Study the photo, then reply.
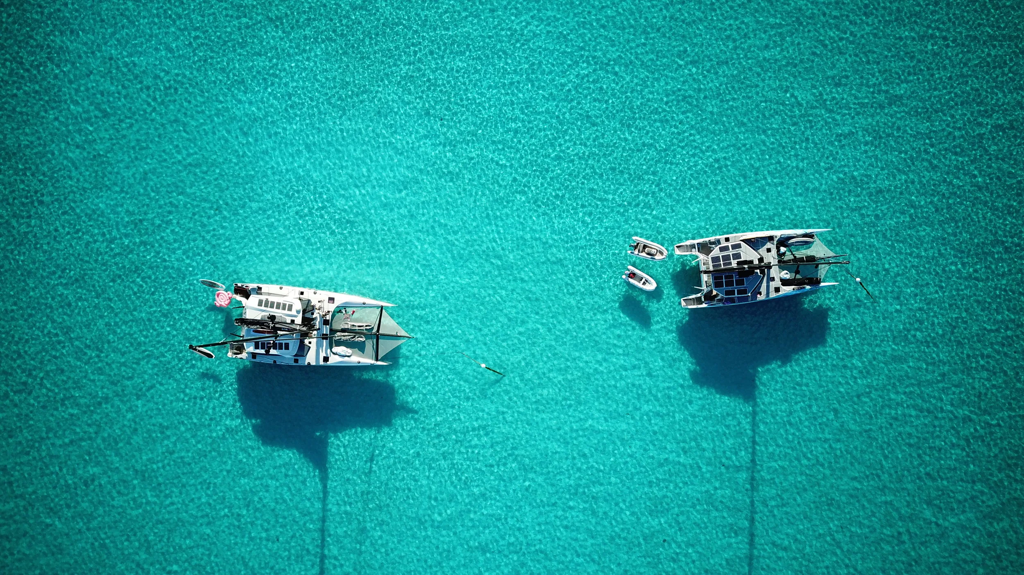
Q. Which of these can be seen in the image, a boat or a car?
boat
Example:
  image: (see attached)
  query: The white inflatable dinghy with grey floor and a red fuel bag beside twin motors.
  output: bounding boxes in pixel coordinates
[622,263,658,290]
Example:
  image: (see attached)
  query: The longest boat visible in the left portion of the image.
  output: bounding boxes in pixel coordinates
[184,283,414,365]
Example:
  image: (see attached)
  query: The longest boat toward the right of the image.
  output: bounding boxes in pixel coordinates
[673,229,853,308]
